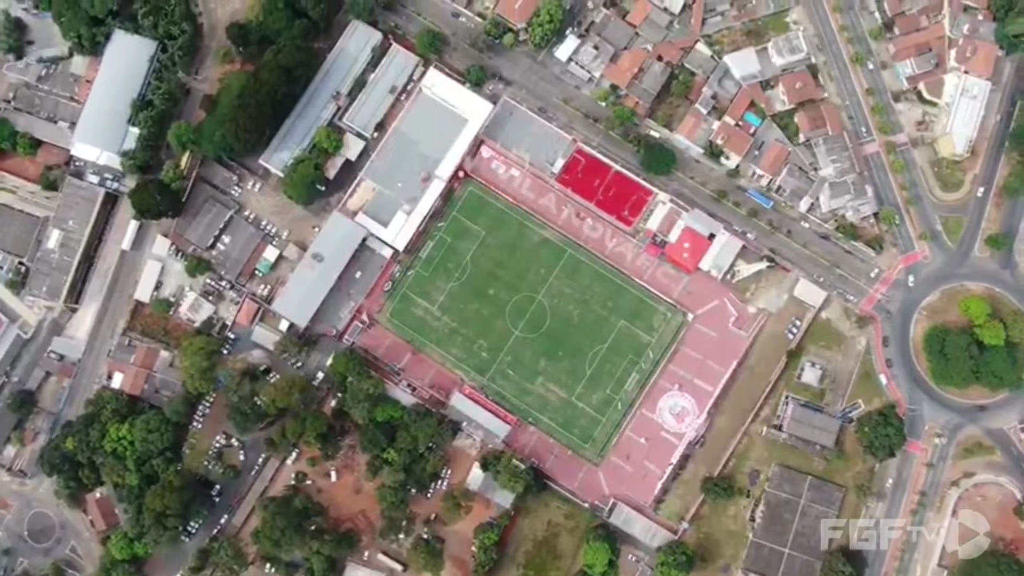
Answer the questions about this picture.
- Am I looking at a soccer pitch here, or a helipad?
soccer pitch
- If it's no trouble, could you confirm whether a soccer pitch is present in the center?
Yes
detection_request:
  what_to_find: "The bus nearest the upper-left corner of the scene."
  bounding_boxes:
[120,220,141,250]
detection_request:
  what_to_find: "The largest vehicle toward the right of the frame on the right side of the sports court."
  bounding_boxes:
[745,189,774,208]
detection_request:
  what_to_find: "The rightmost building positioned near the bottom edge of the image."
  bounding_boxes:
[733,460,845,576]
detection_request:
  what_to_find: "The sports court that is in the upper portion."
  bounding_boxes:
[556,150,653,228]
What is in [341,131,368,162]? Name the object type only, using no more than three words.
shed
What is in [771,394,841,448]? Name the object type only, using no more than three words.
building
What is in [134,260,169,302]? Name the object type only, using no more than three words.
house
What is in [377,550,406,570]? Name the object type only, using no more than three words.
vehicle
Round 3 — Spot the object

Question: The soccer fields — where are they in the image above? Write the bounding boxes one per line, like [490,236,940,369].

[377,174,683,462]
